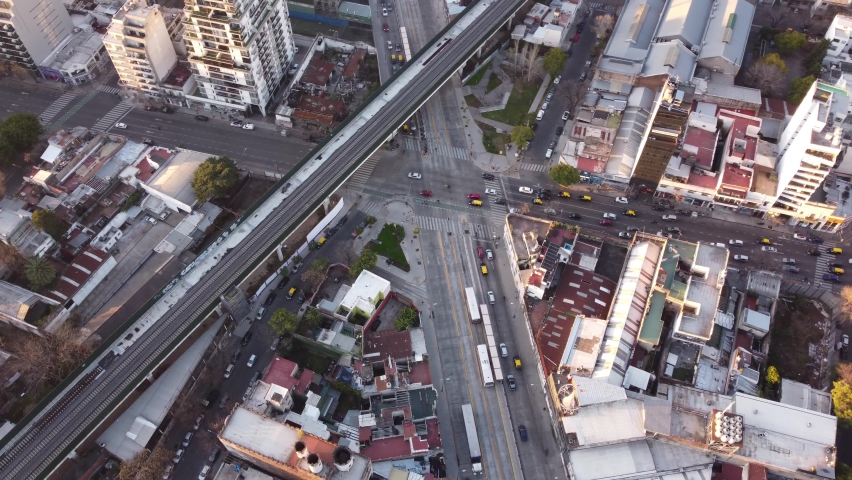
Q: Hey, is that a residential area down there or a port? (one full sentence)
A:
The picture captures a residential area.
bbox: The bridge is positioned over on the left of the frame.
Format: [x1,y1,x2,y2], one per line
[0,0,530,480]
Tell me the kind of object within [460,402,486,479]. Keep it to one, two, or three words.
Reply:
truck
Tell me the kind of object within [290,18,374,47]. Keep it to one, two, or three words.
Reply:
sports field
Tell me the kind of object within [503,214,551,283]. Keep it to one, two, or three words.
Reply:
building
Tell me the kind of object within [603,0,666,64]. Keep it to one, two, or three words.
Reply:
shed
